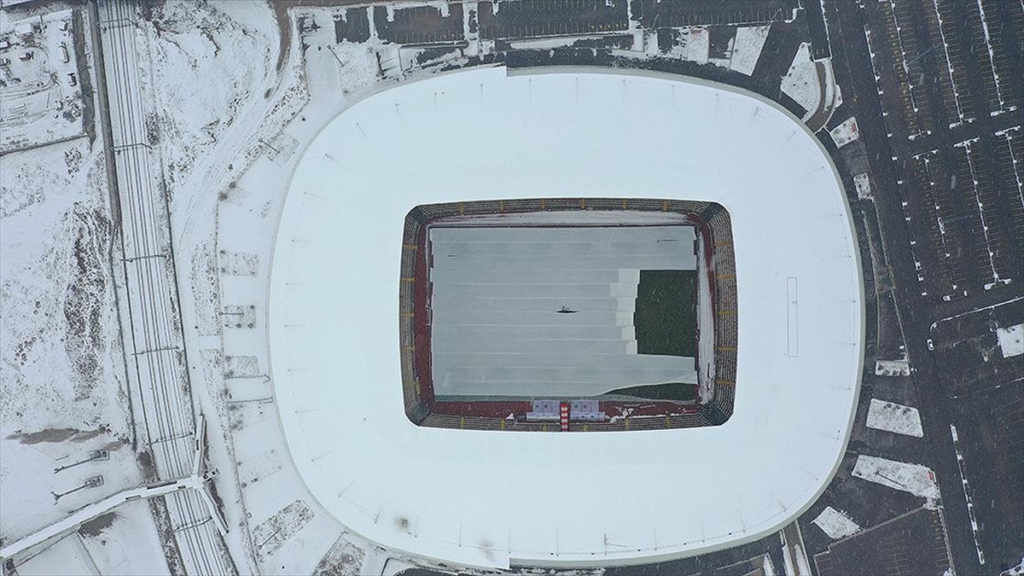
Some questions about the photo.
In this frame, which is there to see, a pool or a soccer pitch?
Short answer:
soccer pitch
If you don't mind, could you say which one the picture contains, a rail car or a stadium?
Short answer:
stadium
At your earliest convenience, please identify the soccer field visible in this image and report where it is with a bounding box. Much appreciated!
[604,227,698,400]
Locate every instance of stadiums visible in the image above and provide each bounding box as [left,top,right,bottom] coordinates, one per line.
[268,64,865,572]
